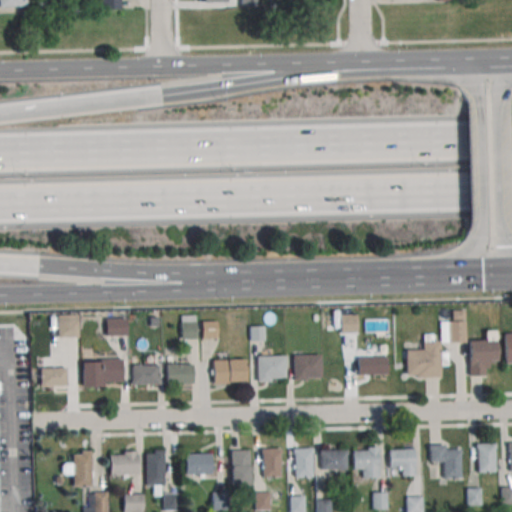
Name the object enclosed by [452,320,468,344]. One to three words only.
building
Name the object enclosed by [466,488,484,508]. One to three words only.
building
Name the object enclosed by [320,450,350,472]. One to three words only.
house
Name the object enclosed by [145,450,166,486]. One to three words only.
house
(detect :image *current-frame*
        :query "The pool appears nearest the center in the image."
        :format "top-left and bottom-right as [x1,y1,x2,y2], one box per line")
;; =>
[263,312,278,326]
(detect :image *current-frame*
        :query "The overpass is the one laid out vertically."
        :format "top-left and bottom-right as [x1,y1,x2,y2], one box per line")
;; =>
[420,74,512,260]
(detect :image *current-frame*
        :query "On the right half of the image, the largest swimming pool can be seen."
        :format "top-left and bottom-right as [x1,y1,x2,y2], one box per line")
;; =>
[364,318,390,338]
